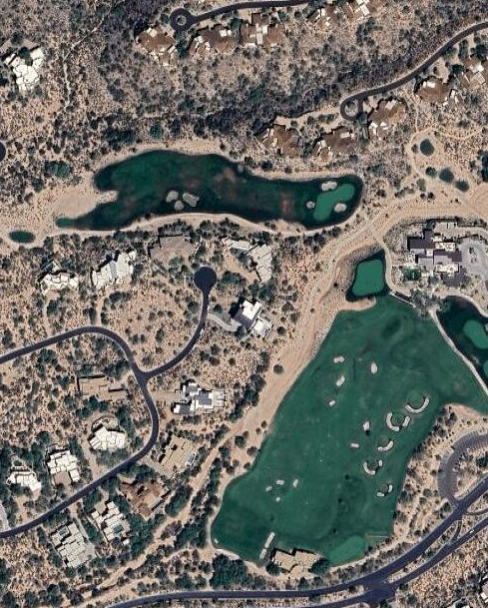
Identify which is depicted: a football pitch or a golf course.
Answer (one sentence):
I can see a golf course in this picture.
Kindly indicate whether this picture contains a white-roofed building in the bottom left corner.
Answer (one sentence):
Yes, a white-roofed building shows up in the bottom left corner.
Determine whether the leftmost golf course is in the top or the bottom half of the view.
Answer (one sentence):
It is in the top half that the leftmost golf course appears.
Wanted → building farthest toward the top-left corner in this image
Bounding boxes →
[3,39,42,86]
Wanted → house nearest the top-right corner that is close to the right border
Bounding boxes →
[456,54,488,88]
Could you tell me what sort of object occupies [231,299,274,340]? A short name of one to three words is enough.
house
